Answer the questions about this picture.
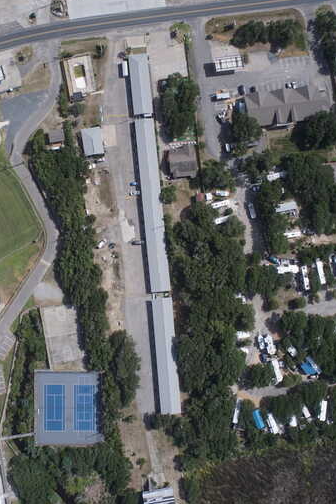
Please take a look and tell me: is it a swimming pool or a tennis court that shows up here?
tennis court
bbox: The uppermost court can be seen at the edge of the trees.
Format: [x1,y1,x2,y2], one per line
[41,306,84,363]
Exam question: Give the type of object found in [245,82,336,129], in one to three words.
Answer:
building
